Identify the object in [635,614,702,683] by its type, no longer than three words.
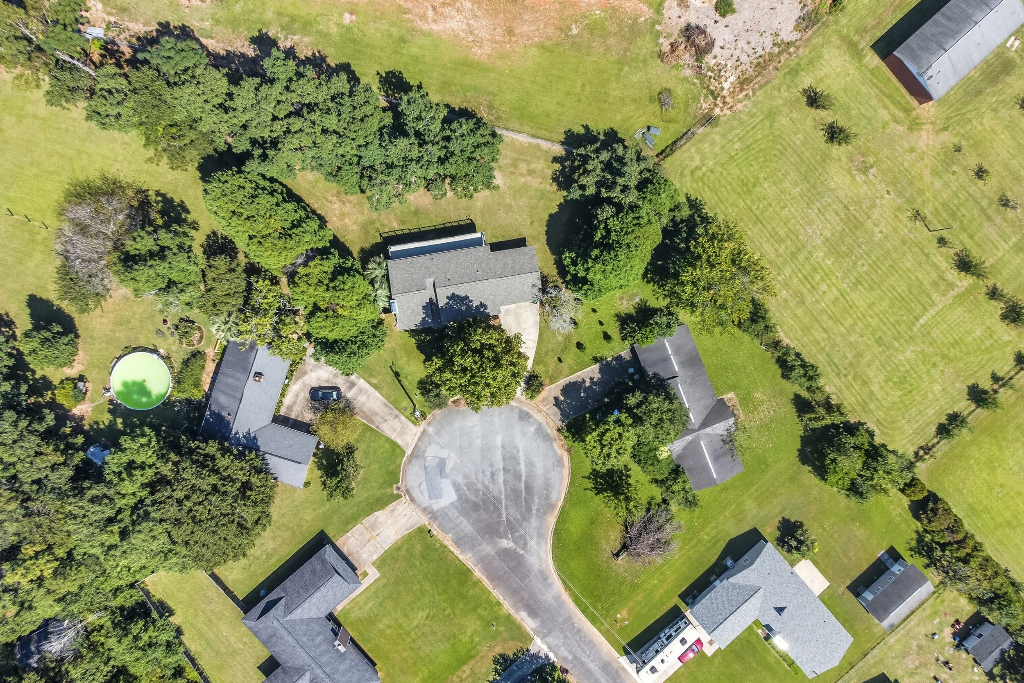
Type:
camper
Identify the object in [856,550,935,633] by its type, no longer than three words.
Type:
shed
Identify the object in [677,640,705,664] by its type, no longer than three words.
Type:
car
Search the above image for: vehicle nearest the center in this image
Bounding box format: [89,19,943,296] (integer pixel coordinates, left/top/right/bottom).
[309,387,341,402]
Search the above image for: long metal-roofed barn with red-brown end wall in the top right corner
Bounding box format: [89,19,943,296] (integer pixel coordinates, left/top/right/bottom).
[887,0,1024,103]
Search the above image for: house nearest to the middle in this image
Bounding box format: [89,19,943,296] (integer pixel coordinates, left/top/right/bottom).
[386,231,540,331]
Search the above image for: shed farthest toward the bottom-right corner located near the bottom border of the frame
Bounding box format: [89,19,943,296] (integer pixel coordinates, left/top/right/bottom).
[961,619,1013,672]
